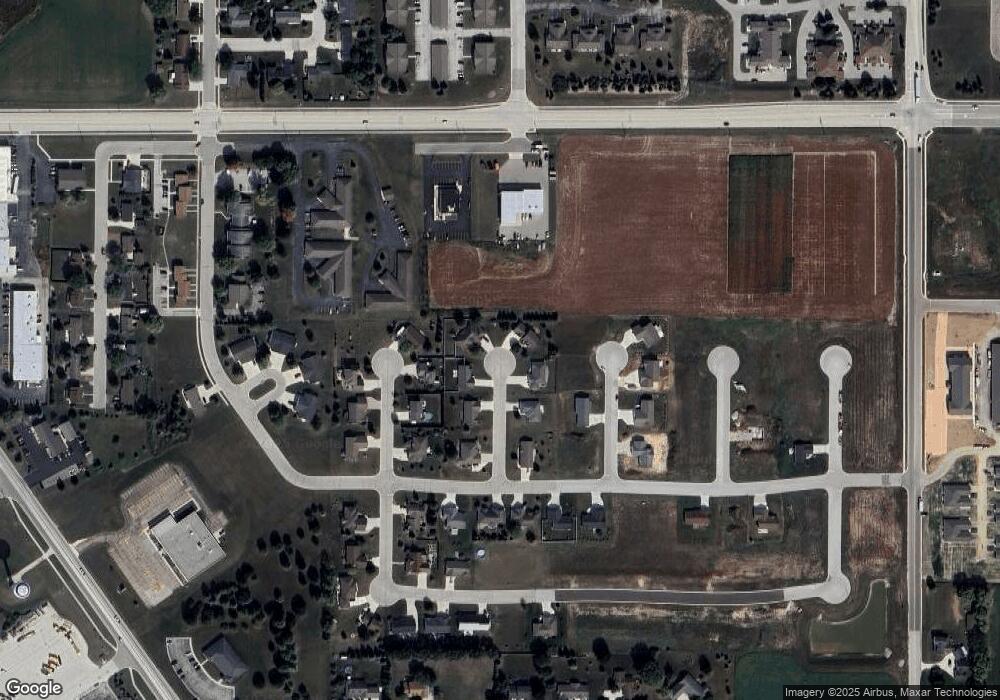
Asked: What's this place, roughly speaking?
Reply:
residential area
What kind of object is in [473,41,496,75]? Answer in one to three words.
building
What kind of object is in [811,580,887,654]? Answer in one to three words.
pond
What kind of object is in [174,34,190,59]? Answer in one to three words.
house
